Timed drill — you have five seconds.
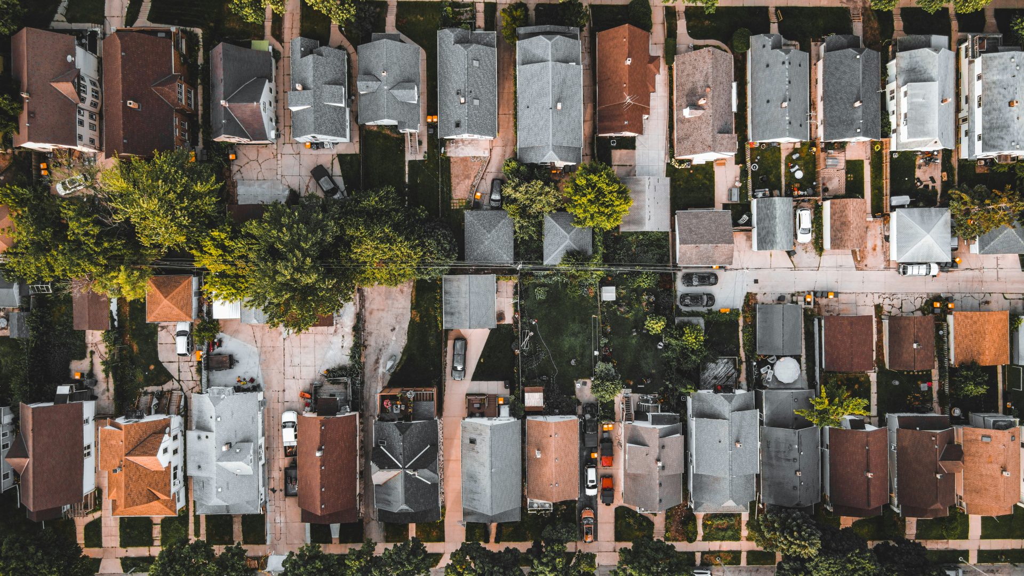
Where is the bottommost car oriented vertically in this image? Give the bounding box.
[579,508,596,546]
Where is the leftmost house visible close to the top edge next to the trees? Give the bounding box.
[11,26,101,151]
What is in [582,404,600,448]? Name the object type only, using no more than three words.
vehicle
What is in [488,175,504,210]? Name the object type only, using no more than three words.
car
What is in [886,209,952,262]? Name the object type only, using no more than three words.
building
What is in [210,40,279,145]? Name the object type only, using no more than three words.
house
